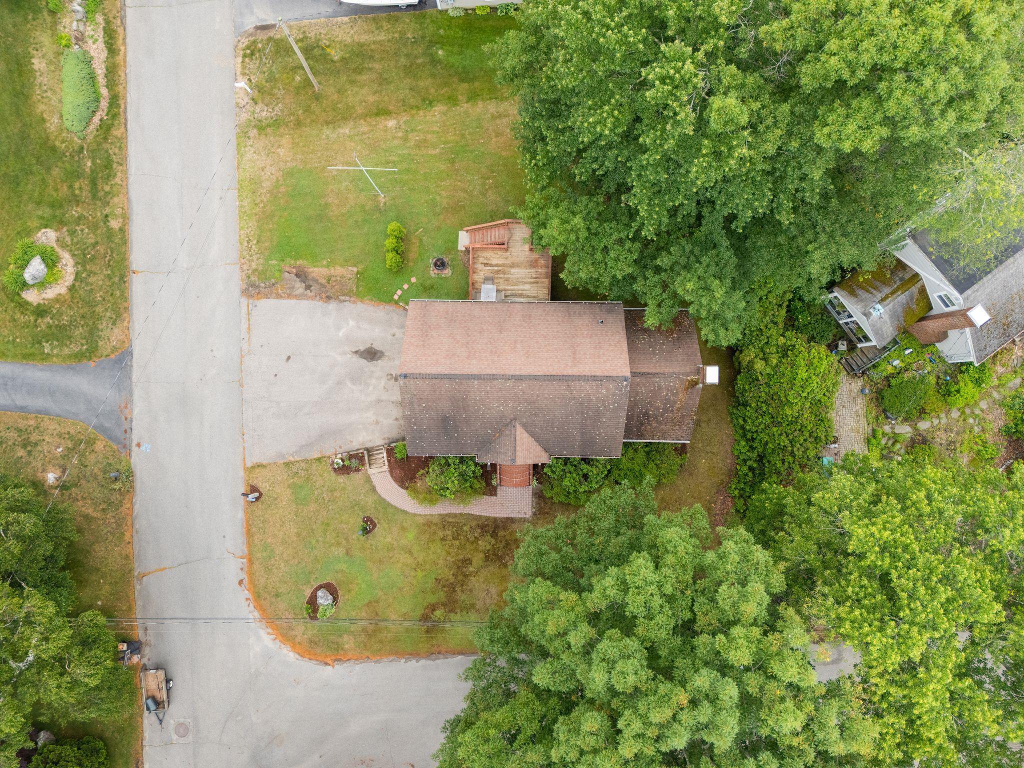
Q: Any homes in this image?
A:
Yes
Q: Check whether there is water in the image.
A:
No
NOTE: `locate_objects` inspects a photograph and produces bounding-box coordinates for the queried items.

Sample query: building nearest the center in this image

[400,298,717,467]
